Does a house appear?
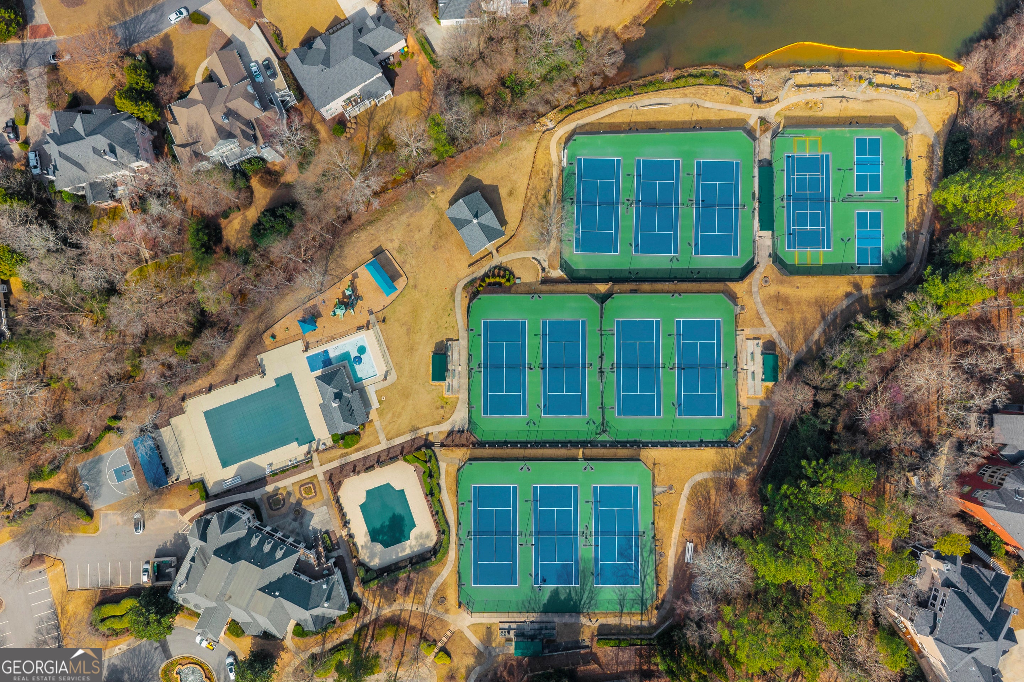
Yes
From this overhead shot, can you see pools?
Yes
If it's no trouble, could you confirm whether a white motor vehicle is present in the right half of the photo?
No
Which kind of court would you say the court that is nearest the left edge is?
basketball court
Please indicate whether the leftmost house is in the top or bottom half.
top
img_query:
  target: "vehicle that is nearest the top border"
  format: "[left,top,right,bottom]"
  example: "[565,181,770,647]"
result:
[167,5,187,21]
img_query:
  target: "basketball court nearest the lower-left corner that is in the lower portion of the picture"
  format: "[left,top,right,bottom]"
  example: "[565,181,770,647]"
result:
[77,447,140,510]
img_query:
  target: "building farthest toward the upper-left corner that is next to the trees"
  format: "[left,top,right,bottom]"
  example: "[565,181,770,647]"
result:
[41,109,155,206]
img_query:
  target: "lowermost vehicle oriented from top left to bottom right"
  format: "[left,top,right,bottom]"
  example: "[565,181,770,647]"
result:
[194,636,218,655]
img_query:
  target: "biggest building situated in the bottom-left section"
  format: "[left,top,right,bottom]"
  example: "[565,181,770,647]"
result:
[169,504,352,647]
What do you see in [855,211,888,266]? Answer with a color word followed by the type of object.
blue sports court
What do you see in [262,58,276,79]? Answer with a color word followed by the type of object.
black car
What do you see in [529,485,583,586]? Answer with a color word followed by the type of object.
blue tennis court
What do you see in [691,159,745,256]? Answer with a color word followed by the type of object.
blue tennis court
